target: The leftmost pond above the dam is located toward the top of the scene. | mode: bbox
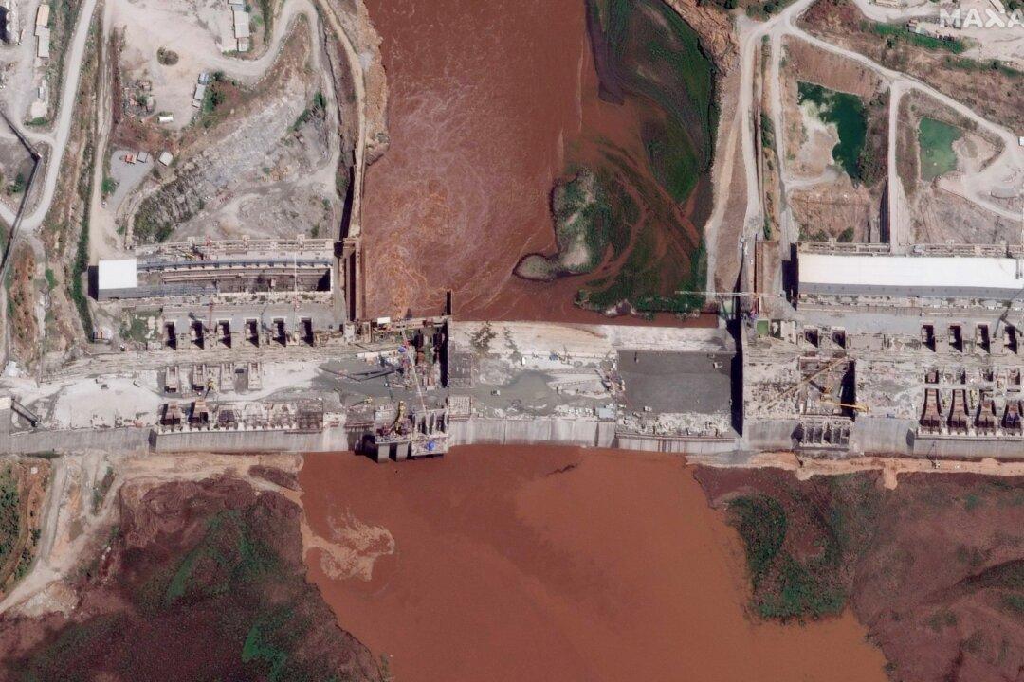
[796,79,868,181]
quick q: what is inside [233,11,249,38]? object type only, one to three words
shed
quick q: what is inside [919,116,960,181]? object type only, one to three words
pond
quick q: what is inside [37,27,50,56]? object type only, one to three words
shed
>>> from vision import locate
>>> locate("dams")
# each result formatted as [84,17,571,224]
[0,311,1024,460]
